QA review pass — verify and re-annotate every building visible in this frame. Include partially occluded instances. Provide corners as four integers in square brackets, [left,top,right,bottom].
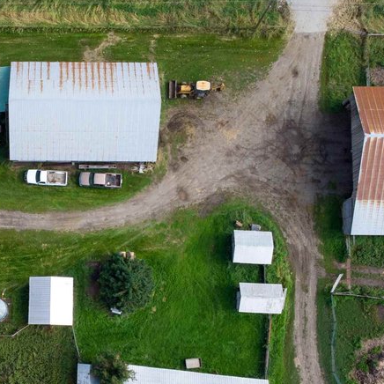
[29,276,74,326]
[230,230,273,265]
[7,62,161,165]
[329,86,384,237]
[233,283,286,314]
[127,364,268,384]
[77,363,102,384]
